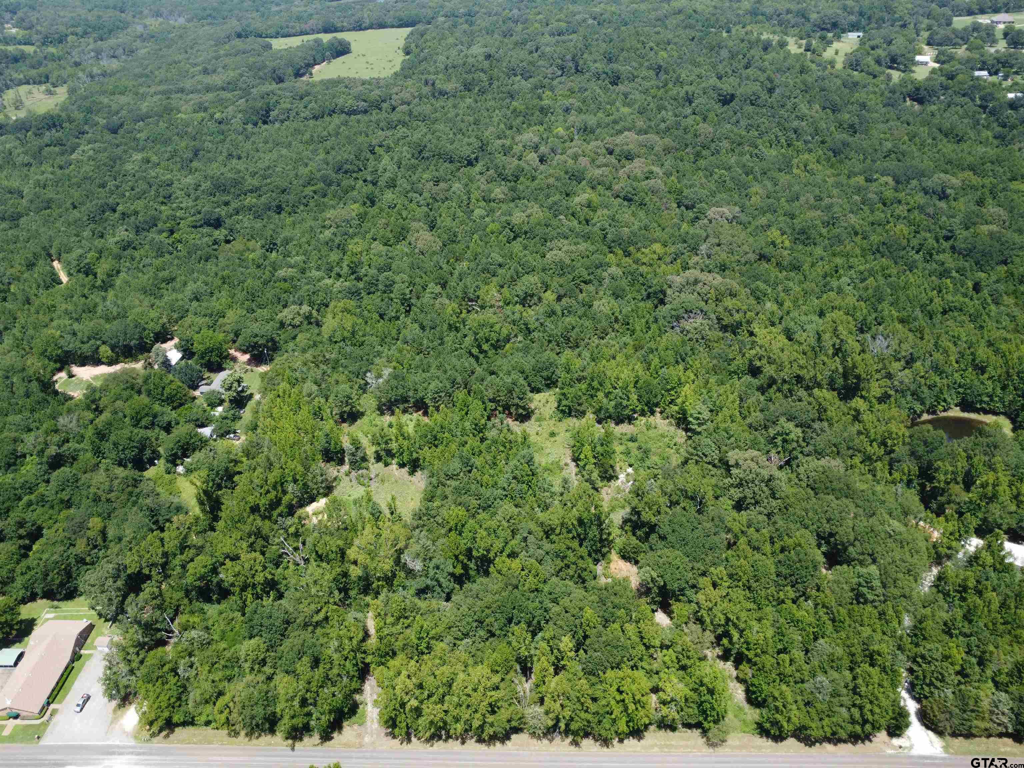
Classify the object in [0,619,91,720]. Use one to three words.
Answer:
building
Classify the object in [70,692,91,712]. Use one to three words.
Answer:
car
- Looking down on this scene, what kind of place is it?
forest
